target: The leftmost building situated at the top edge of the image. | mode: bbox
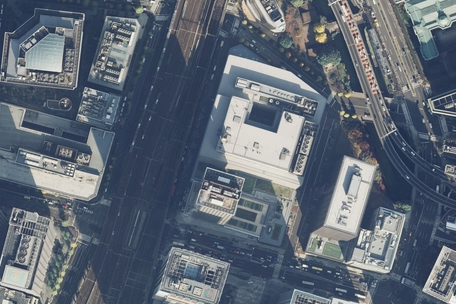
[0,8,86,98]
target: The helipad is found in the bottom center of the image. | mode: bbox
[203,286,217,300]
